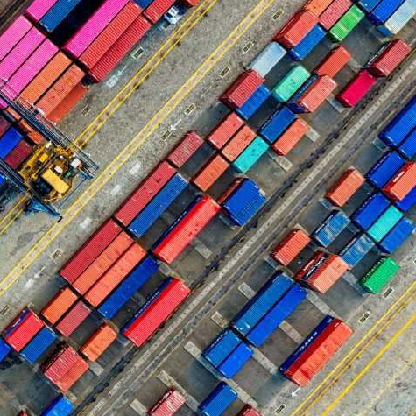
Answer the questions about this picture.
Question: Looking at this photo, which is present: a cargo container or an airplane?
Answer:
cargo container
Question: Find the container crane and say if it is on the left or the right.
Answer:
left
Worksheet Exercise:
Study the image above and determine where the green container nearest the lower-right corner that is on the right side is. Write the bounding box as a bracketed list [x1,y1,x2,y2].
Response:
[357,256,401,294]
